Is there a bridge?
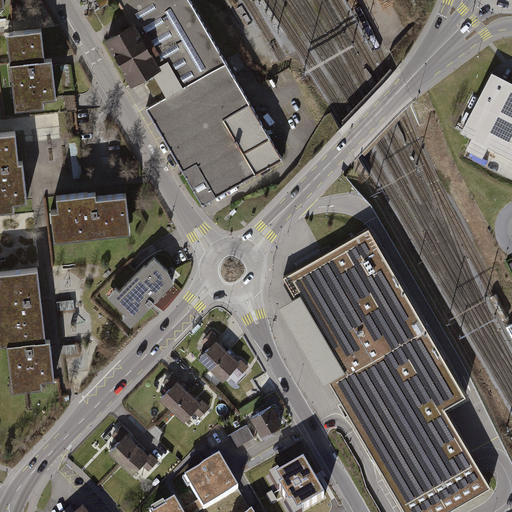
Yes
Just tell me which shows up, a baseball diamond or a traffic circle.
traffic circle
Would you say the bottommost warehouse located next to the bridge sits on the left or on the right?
right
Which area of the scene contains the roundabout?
center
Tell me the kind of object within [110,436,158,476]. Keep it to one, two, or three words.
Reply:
house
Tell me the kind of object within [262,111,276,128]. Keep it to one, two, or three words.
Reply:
vehicle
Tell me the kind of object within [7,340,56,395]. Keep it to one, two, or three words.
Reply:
building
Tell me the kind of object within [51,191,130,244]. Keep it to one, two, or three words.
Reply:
building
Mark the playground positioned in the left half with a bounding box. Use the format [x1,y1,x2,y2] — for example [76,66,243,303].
[53,265,96,392]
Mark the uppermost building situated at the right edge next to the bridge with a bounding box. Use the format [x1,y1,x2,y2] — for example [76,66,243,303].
[459,74,512,164]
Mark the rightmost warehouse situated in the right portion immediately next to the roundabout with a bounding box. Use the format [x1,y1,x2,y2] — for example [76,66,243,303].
[284,230,489,512]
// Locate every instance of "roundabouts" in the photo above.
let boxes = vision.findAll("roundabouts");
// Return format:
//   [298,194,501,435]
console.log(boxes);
[184,222,275,316]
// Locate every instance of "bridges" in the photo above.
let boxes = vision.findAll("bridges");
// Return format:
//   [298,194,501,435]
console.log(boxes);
[318,60,437,180]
